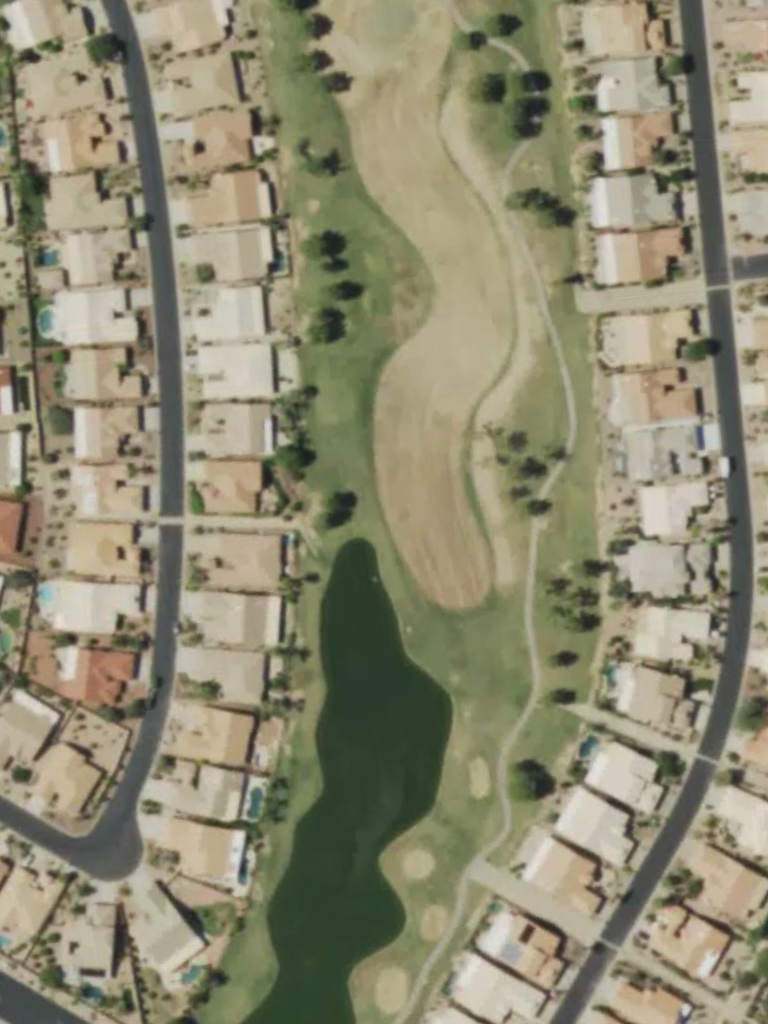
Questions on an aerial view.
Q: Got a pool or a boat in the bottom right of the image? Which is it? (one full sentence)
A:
It is a pool that can be seen in the bottom right of the image.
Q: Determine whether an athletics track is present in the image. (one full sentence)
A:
No, this view has no athletics track in it.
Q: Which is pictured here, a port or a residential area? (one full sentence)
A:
The area seen from above is a residential area.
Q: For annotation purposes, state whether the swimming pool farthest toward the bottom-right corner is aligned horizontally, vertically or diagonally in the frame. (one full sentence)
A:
In this picture, the swimming pool farthest toward the bottom-right corner is oriented diagonally.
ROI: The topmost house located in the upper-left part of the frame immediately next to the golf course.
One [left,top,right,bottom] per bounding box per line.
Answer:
[155,0,231,51]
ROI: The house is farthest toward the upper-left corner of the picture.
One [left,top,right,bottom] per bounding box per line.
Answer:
[7,0,89,49]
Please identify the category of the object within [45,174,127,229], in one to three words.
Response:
house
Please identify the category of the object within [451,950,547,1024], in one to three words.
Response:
house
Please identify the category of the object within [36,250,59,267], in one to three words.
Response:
swimming pool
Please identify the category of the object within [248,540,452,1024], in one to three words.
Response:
pond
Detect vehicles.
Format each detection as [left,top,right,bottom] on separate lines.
[172,624,178,633]
[719,457,729,476]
